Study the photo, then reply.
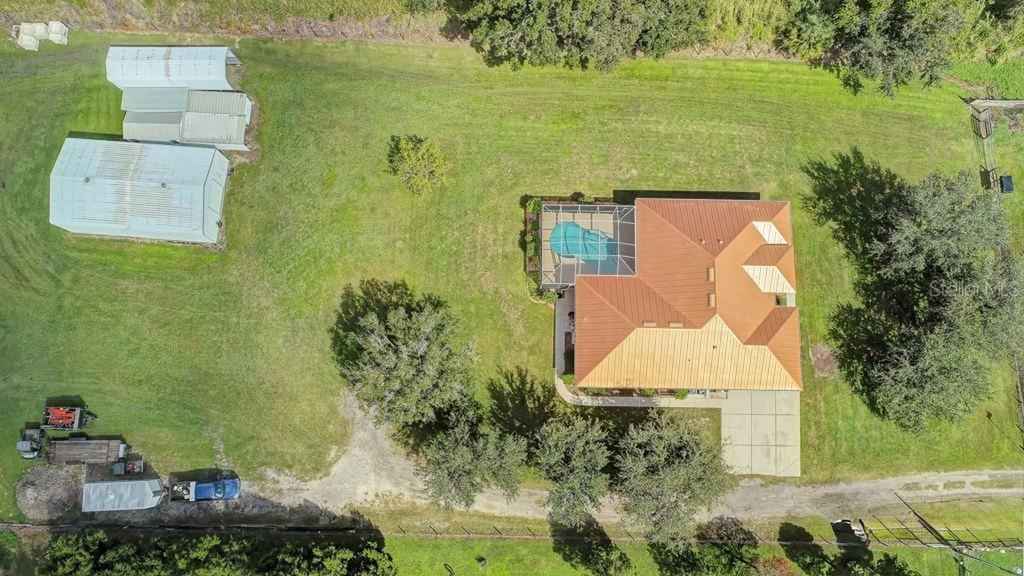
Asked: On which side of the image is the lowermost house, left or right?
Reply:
right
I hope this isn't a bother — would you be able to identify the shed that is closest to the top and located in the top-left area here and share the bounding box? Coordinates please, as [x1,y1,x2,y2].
[103,45,238,93]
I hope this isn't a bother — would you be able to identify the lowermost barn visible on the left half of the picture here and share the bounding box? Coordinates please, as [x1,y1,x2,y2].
[47,135,229,244]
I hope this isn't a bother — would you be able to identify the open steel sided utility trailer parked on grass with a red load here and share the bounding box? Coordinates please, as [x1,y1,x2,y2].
[38,404,100,433]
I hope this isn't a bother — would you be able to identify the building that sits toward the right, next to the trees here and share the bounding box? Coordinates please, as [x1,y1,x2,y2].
[574,199,804,391]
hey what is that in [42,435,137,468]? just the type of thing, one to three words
trailer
